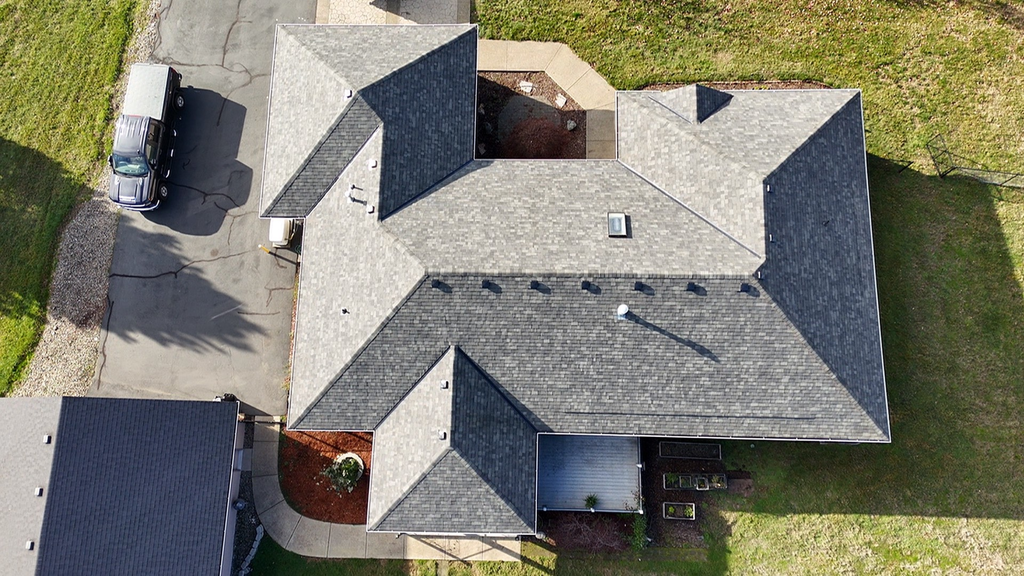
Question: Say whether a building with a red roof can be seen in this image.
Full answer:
No, I can't see a single building with a red roof in this photo.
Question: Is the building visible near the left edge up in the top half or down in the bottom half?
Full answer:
It is in the bottom half that the building visible near the left edge appears.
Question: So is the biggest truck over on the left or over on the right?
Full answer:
It is on the left.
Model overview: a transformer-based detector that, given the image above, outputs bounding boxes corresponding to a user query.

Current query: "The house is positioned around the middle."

[257,24,891,540]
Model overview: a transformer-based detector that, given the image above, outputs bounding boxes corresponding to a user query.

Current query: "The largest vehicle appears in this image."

[104,61,183,210]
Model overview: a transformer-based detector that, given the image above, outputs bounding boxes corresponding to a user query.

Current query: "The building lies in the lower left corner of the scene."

[0,395,245,576]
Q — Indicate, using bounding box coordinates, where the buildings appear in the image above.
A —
[257,24,891,540]
[0,395,245,576]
